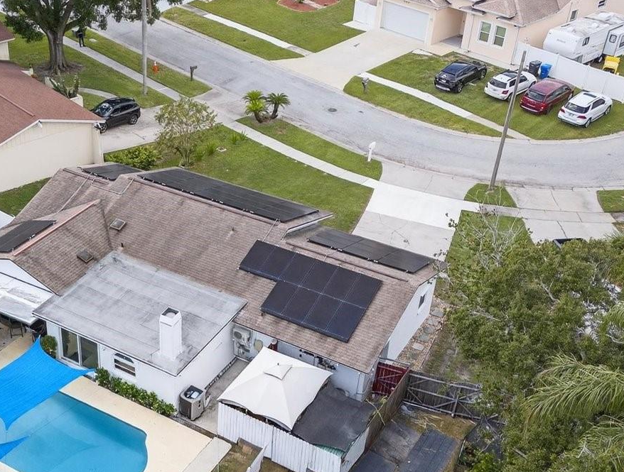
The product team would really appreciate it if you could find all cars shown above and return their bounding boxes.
[88,93,148,132]
[564,91,612,124]
[490,66,535,97]
[440,60,484,91]
[526,77,574,111]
